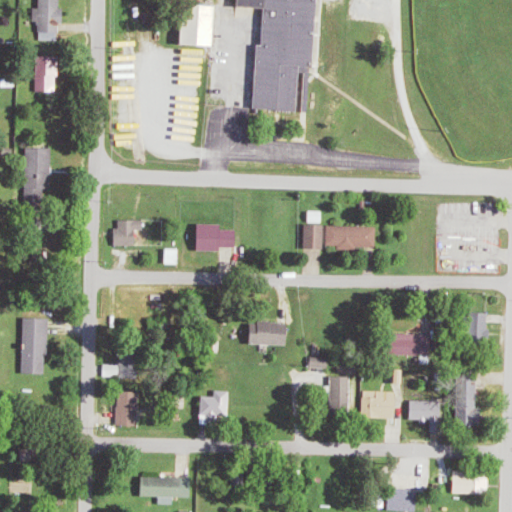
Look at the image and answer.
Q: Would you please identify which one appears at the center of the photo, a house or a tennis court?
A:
house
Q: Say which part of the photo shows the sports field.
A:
top right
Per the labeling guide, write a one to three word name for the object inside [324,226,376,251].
house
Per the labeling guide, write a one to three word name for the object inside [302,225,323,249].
building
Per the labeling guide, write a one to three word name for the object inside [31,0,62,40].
house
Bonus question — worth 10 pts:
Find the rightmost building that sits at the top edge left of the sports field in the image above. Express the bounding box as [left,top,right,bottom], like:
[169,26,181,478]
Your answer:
[236,0,315,116]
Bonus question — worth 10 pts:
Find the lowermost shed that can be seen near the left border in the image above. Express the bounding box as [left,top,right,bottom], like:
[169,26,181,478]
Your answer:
[8,482,32,495]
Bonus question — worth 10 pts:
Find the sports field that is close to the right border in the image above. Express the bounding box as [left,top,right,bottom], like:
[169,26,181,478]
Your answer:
[412,0,512,162]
